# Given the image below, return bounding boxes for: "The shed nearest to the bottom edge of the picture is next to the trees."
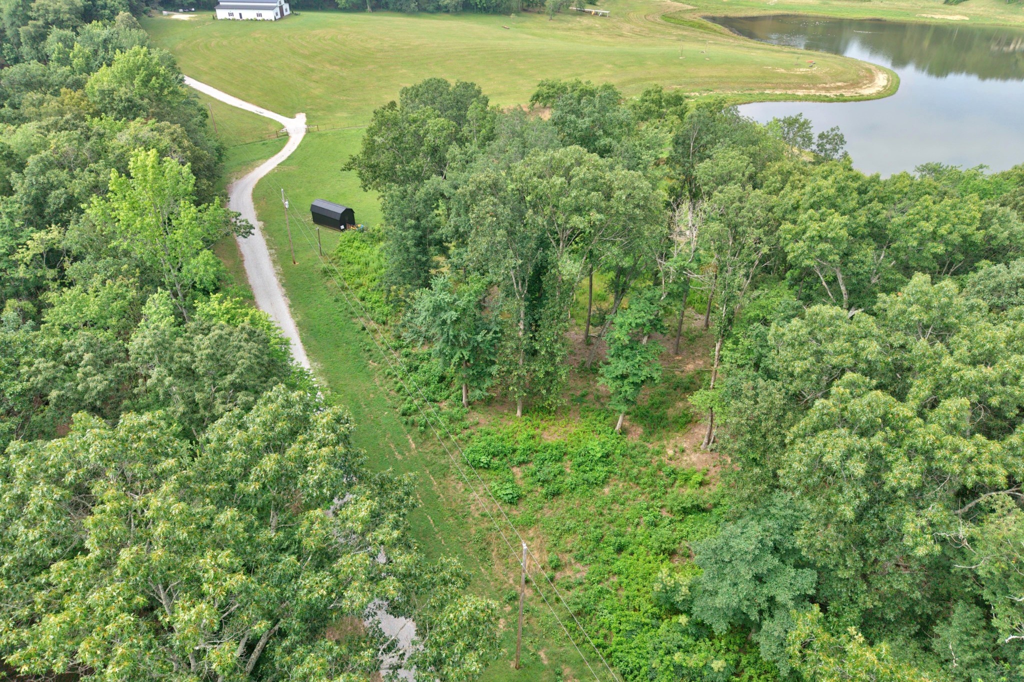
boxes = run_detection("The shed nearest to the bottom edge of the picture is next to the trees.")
[310,199,358,231]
